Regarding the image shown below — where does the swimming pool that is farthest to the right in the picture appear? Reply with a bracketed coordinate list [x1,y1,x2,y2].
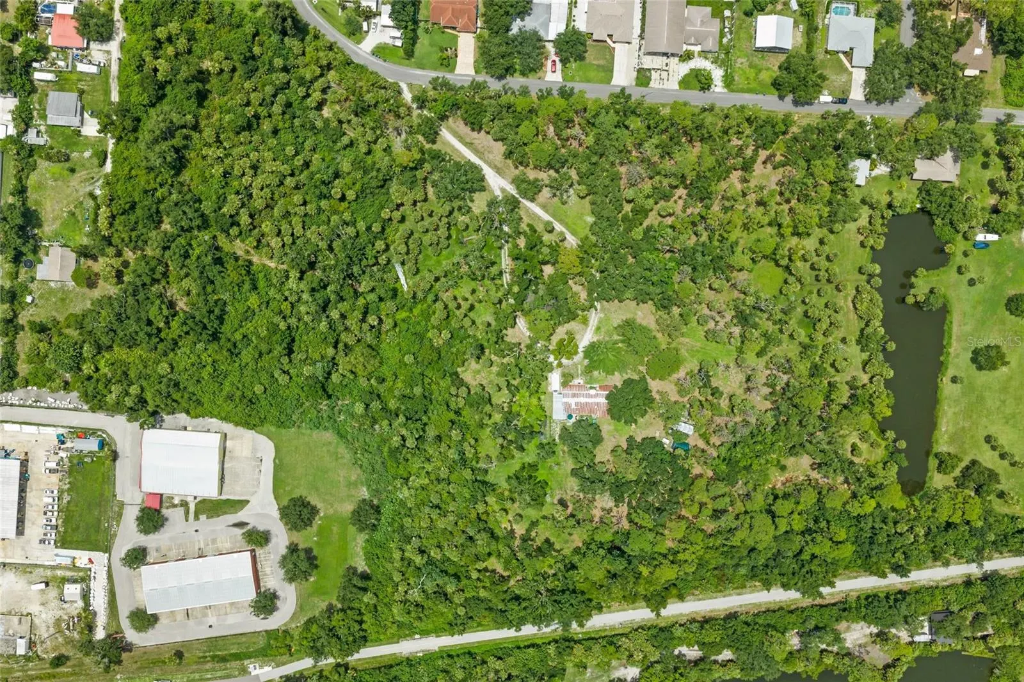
[833,1,857,16]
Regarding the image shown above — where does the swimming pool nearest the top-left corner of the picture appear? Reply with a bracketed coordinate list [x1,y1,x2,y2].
[38,2,56,14]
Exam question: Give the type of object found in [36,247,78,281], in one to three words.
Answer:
house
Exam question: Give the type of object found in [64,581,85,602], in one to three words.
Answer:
shed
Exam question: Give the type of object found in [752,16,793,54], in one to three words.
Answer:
barn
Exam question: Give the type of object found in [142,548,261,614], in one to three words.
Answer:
building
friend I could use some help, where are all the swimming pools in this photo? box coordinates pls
[38,2,56,14]
[833,1,857,16]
